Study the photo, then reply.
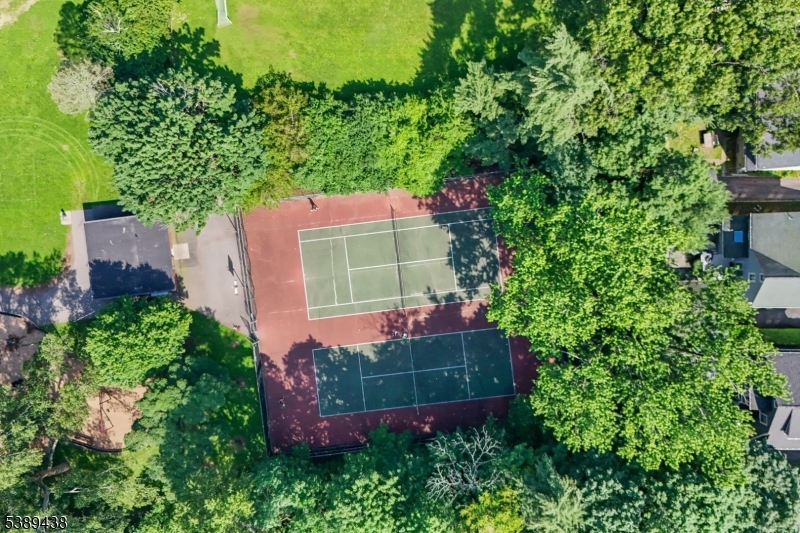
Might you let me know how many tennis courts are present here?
2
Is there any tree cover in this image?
Yes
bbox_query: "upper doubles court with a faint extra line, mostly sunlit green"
[244,175,553,341]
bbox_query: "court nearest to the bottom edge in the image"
[259,307,566,453]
